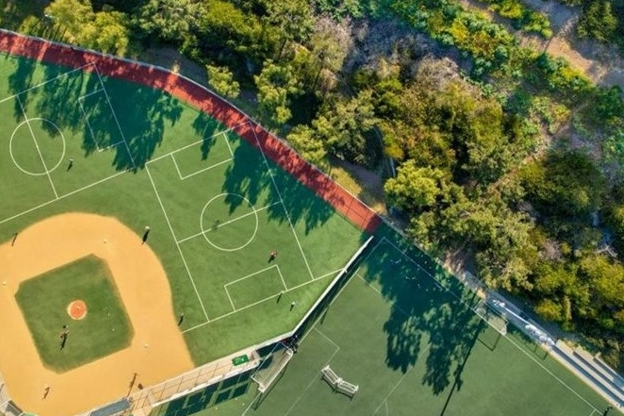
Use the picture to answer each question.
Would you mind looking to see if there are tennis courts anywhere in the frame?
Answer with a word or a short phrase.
No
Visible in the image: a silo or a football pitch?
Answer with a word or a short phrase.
football pitch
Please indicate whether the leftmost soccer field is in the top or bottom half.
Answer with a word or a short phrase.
top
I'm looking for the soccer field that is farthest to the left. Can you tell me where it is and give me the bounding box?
[0,63,135,224]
